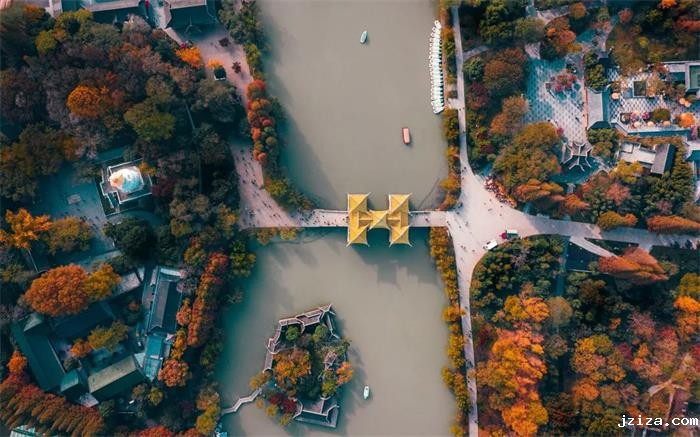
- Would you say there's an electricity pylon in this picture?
No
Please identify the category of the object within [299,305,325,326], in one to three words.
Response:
building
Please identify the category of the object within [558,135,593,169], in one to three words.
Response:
building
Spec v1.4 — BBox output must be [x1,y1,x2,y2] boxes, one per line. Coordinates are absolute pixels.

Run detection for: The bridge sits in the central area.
[305,192,448,248]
